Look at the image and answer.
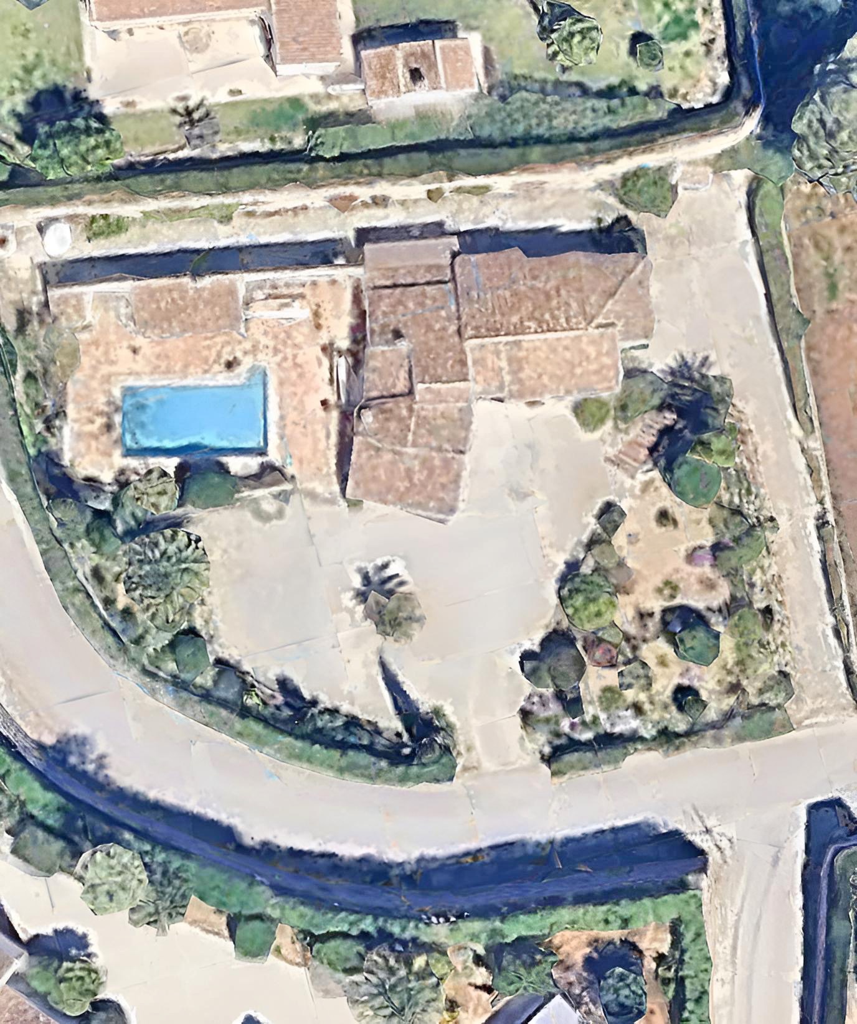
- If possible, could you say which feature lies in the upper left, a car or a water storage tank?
water storage tank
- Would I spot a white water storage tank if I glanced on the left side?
Yes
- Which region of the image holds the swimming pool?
left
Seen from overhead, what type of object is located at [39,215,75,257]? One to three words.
water tank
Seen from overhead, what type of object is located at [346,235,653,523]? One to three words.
house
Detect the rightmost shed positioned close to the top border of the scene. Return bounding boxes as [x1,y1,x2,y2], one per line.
[361,37,479,104]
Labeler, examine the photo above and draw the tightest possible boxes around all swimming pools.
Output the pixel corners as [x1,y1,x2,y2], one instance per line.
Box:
[119,362,272,460]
